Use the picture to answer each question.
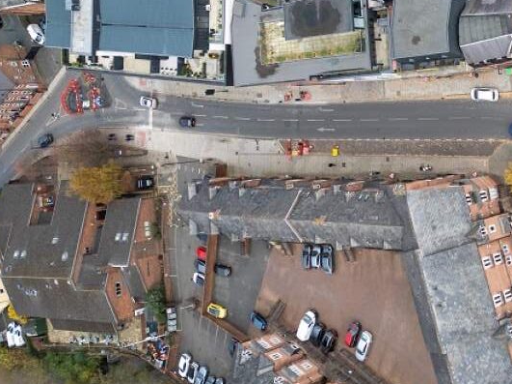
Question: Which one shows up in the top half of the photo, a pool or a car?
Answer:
car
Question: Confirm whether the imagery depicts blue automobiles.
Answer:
Yes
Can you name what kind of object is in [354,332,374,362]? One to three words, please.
car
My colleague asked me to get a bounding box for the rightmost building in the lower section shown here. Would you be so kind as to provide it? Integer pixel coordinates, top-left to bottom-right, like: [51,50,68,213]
[397,176,512,384]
